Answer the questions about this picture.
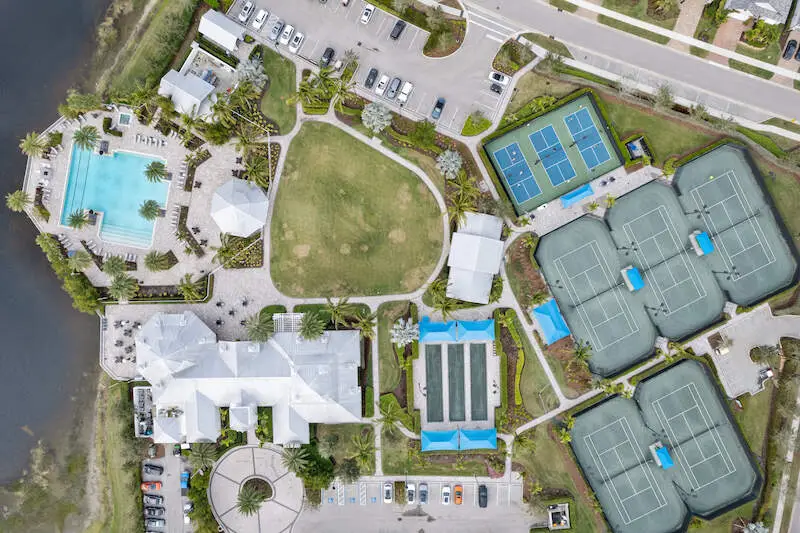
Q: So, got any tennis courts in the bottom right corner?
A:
Yes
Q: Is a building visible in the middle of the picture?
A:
Yes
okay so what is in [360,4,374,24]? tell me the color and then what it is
white car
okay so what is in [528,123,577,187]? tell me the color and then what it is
blue sports court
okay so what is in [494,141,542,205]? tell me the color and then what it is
blue sports court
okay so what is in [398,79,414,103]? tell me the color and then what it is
white vehicle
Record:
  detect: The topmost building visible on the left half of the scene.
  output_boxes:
[198,9,245,54]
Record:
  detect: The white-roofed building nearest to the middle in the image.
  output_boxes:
[446,211,505,304]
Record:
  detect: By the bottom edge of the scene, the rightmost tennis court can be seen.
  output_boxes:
[638,361,759,515]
